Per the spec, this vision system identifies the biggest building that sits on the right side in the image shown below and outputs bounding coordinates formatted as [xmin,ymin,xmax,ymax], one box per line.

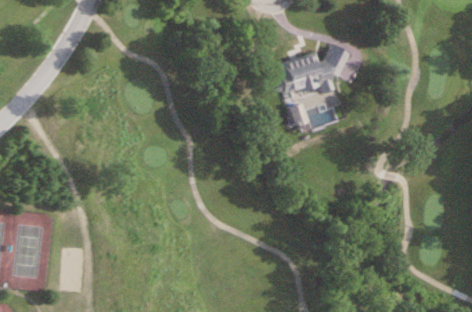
[281,44,354,101]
